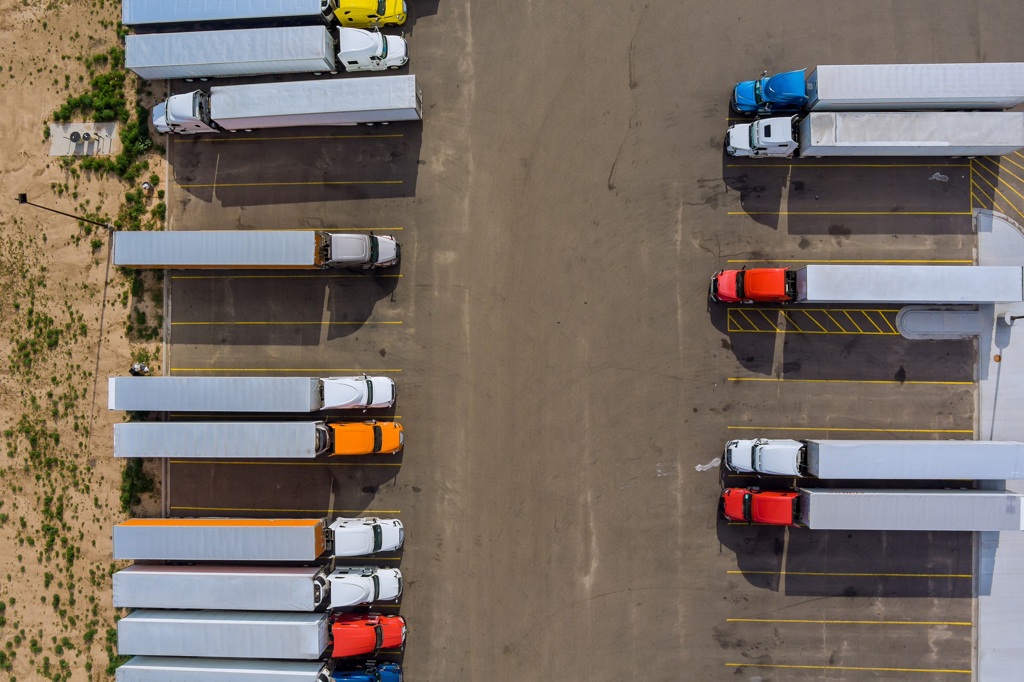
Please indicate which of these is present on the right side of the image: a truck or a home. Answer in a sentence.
It is a truck that can be seen on the right side of the image.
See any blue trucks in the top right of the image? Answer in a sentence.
Yes, a blue truck can be seen in the top right of the image.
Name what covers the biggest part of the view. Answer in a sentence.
The bulk of the photo consists of paved ground.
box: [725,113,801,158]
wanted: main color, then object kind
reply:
white truck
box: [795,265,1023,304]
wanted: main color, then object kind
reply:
white trailer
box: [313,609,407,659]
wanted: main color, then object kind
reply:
red truck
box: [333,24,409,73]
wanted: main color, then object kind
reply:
white truck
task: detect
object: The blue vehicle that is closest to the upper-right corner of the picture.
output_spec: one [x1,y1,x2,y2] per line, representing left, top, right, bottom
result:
[730,67,835,115]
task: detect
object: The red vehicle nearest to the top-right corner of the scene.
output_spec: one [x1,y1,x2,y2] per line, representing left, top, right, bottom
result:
[709,264,796,305]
